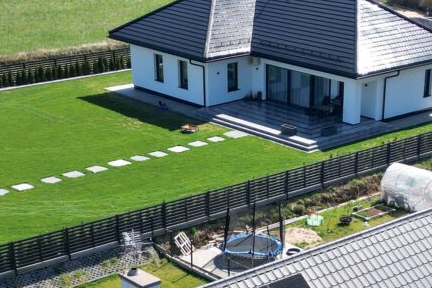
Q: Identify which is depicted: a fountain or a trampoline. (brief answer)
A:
trampoline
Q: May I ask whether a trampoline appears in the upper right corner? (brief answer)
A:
No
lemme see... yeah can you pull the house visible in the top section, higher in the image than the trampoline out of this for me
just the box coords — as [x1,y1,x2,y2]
[107,0,432,151]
